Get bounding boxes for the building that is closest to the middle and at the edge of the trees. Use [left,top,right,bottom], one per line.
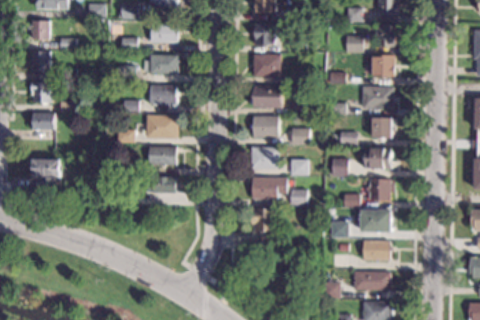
[250,147,280,172]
